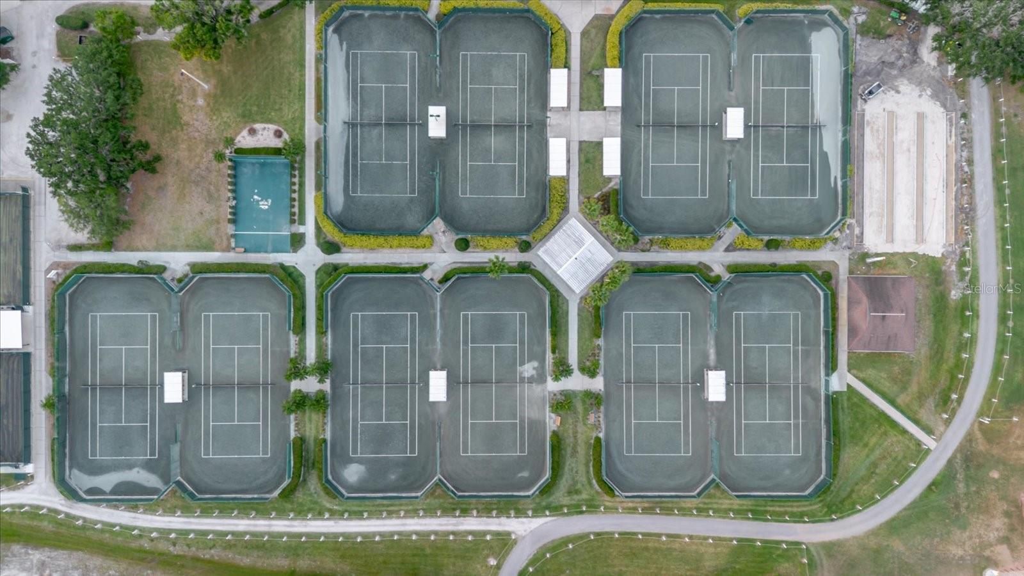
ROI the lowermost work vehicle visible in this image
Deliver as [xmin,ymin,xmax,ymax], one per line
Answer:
[858,80,886,102]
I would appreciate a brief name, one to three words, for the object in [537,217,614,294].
building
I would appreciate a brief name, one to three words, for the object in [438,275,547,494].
tennis court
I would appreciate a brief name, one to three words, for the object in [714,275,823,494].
tennis court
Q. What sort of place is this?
sports ground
